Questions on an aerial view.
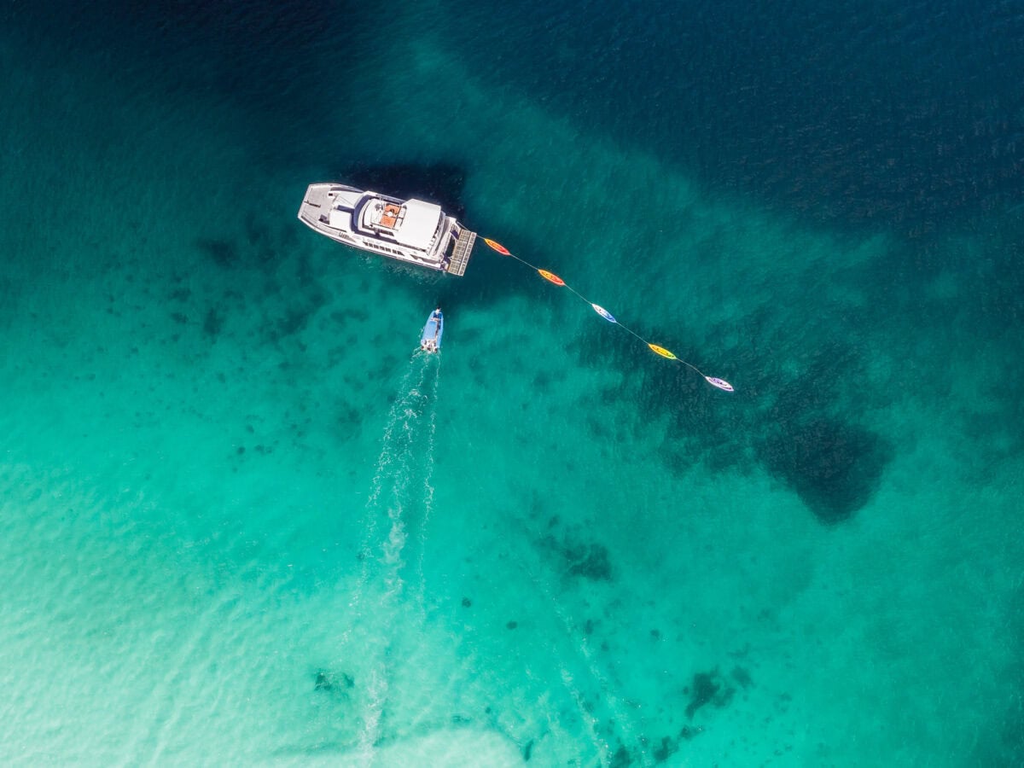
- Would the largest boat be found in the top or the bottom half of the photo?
top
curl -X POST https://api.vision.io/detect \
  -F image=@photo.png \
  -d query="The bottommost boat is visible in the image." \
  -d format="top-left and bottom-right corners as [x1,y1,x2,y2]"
[706,377,735,391]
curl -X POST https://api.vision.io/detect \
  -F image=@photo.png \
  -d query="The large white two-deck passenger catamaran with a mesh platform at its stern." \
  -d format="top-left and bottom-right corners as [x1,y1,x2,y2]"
[298,184,477,277]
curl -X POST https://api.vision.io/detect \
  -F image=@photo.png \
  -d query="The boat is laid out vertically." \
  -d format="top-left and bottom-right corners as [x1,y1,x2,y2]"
[420,311,444,352]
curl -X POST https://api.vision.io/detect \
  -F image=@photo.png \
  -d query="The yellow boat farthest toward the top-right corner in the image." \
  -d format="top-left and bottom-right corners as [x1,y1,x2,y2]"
[649,344,677,358]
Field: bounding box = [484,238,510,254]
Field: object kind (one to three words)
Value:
boat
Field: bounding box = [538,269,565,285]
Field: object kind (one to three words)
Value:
boat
